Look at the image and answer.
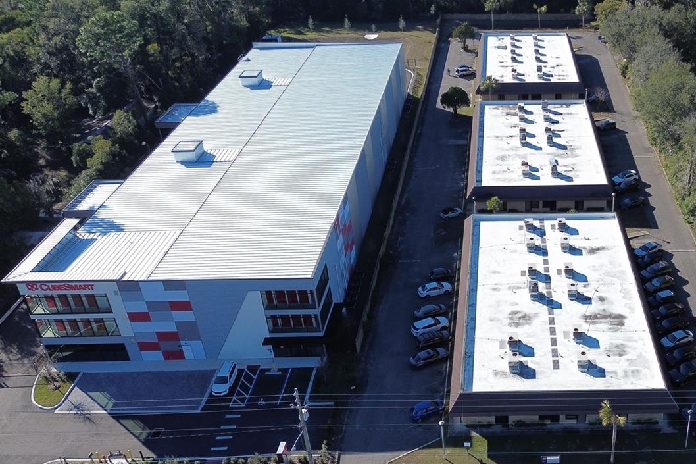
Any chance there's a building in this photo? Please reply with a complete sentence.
Yes, a building can be made out from above.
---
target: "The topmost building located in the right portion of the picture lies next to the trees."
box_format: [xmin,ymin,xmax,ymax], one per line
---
[475,33,586,101]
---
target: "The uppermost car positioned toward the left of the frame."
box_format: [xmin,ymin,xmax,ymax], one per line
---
[210,354,242,397]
